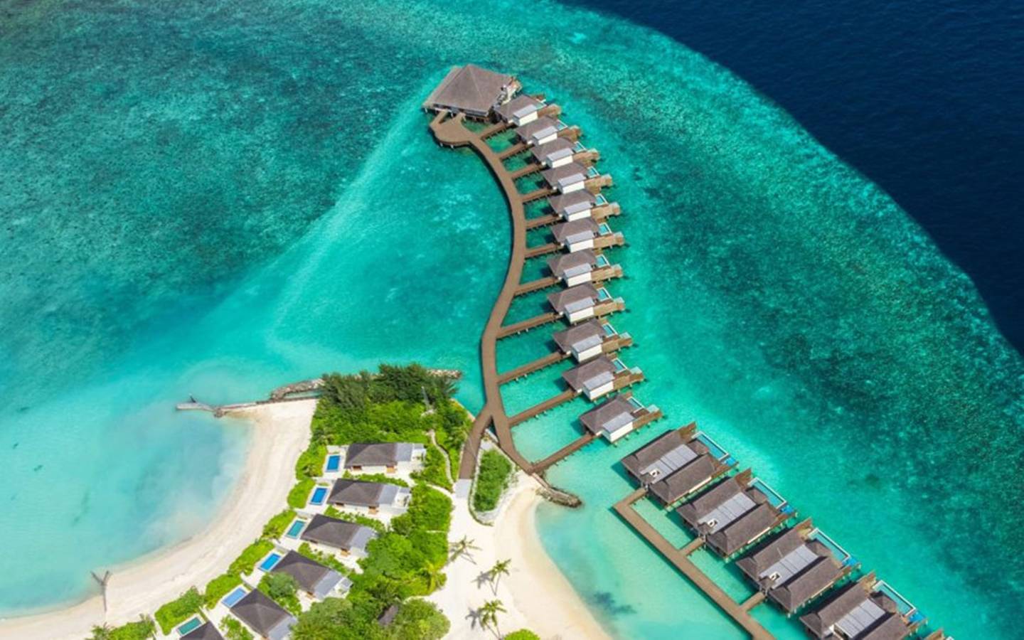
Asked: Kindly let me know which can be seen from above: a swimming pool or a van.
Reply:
swimming pool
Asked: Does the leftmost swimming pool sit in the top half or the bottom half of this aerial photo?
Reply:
bottom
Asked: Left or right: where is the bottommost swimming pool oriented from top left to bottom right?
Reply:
right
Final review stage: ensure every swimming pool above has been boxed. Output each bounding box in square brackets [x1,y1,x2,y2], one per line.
[747,477,788,511]
[610,358,628,375]
[600,322,618,338]
[691,431,731,463]
[555,118,570,131]
[592,193,607,207]
[256,548,284,572]
[172,614,202,638]
[595,221,611,235]
[324,452,342,472]
[536,97,550,110]
[594,286,611,302]
[872,580,917,617]
[220,584,250,609]
[625,396,644,411]
[585,165,599,178]
[808,528,851,563]
[572,140,586,153]
[283,517,307,541]
[594,253,610,268]
[308,485,328,507]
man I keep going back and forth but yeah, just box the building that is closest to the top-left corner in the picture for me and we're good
[422,69,523,127]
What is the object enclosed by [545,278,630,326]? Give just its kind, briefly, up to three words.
house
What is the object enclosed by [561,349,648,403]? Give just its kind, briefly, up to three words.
house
